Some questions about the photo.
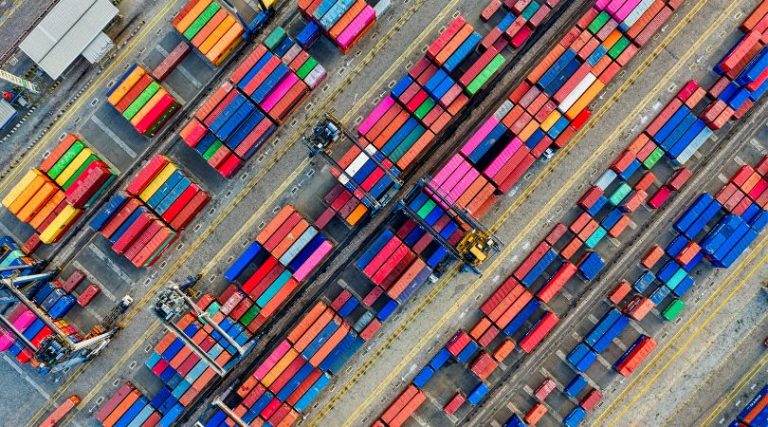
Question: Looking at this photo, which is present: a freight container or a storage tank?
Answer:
freight container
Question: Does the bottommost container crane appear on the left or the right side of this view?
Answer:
left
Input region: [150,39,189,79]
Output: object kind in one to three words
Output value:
shipping container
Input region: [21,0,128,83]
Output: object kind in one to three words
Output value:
building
